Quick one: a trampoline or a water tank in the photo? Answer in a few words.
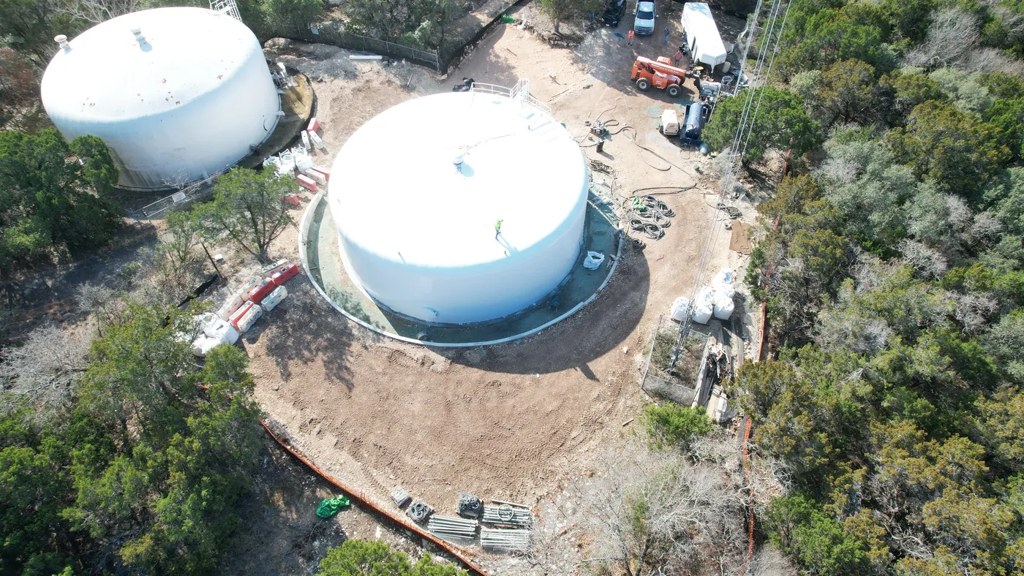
water tank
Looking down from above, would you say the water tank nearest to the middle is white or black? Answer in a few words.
white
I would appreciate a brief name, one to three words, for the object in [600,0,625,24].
car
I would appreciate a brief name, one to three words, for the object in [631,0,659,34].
truck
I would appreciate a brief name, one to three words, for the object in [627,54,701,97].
work vehicle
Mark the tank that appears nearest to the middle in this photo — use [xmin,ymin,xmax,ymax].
[329,78,589,331]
